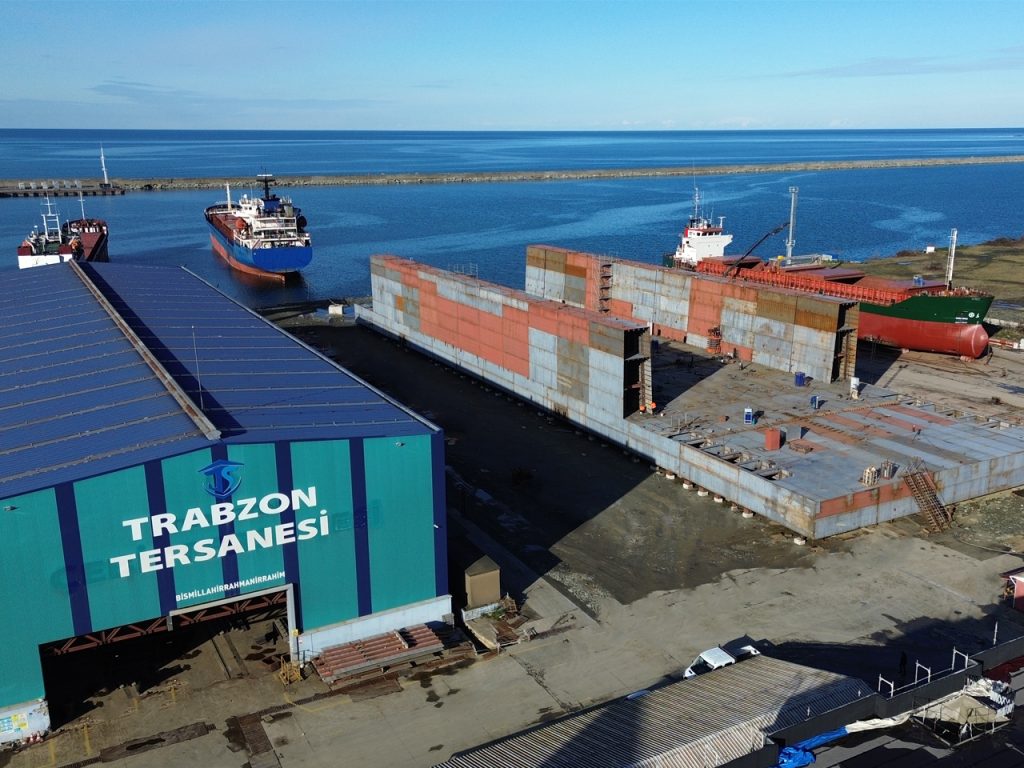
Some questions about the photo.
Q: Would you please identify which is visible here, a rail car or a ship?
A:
ship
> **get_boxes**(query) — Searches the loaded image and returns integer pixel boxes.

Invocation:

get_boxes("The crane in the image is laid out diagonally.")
[721,220,791,275]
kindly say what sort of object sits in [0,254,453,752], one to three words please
building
